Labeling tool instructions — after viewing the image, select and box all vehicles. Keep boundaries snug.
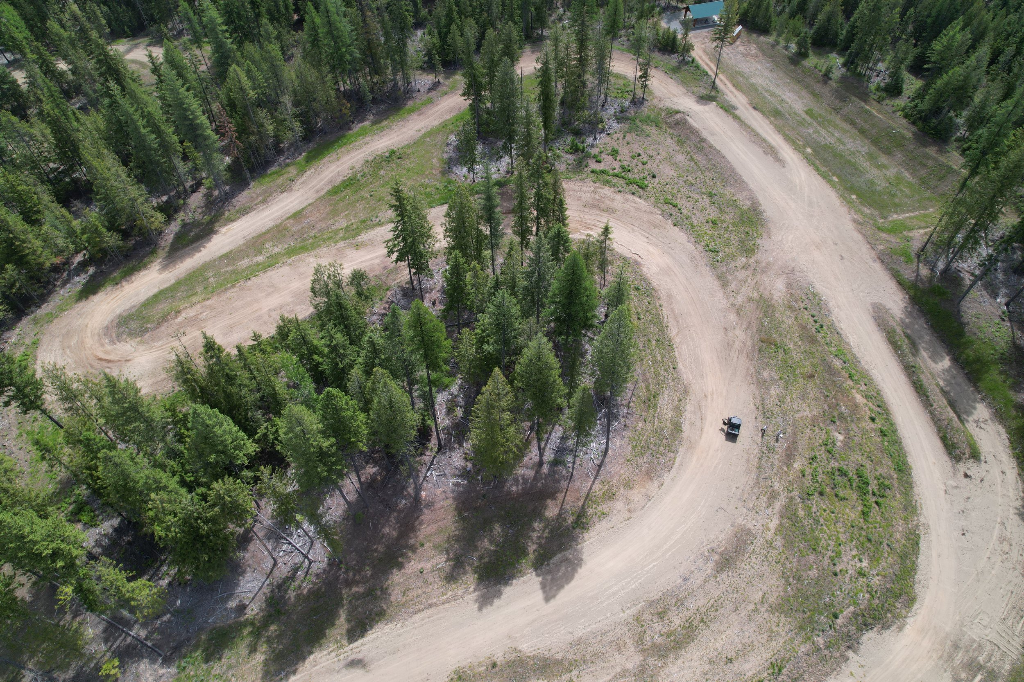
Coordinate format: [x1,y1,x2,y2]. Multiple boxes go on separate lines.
[722,415,741,435]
